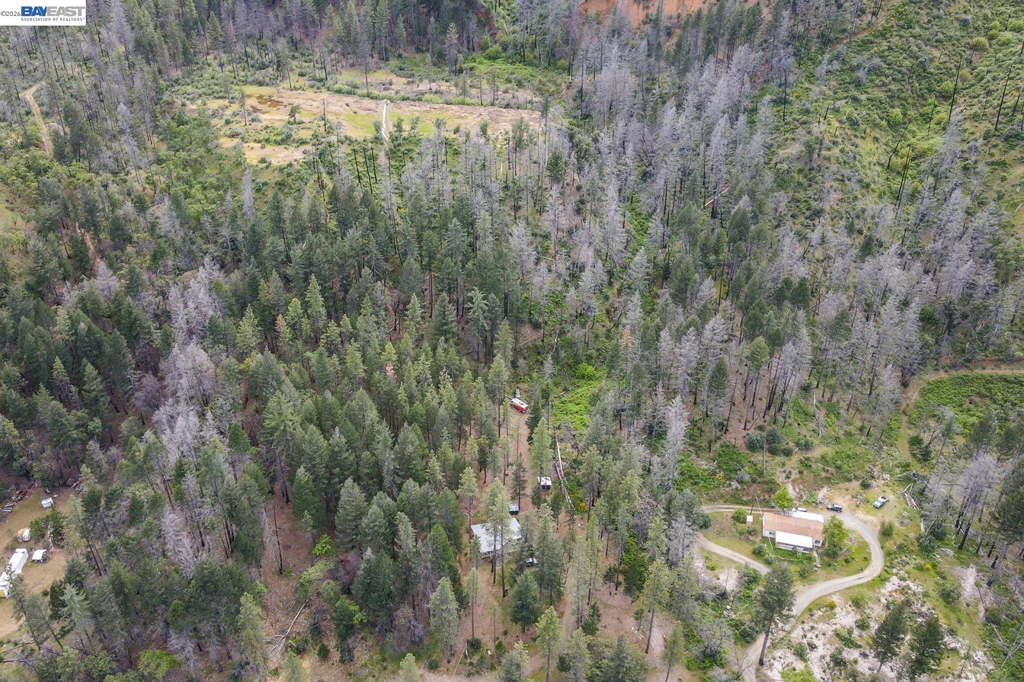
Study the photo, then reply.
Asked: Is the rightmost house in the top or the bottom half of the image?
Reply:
bottom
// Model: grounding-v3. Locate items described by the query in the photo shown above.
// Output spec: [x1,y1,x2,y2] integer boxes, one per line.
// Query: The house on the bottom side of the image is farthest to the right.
[763,507,827,563]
